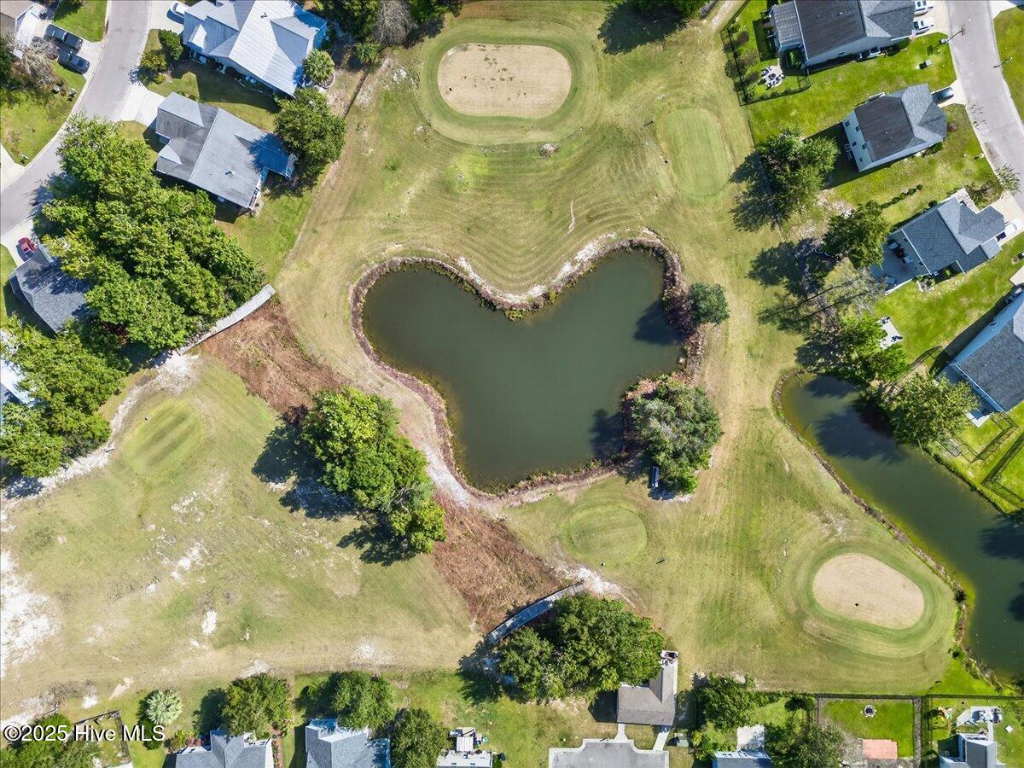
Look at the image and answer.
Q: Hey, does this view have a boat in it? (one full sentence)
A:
No, the photo shows no boat.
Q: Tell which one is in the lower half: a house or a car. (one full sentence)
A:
Visible in the lower half is a house.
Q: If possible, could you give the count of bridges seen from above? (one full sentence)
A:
The picture shows 2 bridges.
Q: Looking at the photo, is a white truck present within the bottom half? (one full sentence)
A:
No, no white truck can be made out within the bottom half.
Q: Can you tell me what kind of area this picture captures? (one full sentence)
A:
The picture captures a golf course.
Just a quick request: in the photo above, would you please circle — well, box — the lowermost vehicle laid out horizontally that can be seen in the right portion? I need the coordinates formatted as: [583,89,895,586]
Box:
[920,84,959,106]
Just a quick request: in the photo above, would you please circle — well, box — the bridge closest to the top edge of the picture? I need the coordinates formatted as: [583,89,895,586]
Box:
[180,283,275,356]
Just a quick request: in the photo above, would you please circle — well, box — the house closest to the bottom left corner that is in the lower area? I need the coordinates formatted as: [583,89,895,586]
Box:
[174,724,270,768]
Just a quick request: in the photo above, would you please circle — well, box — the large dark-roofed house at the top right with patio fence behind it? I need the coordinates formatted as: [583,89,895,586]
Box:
[782,0,914,66]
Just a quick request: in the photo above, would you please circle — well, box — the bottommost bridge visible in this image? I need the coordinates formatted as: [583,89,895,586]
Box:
[486,580,589,645]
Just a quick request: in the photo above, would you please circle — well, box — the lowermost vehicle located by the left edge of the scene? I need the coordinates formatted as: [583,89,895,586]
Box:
[14,231,41,260]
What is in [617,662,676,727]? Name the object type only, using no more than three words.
building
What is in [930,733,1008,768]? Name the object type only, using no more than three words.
house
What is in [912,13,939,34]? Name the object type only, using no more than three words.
car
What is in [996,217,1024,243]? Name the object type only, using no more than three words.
truck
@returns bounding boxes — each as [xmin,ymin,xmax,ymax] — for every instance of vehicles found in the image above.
[43,23,87,55]
[57,49,94,76]
[164,0,192,22]
[909,0,938,16]
[996,217,1024,243]
[912,13,939,34]
[920,84,959,106]
[14,231,41,260]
